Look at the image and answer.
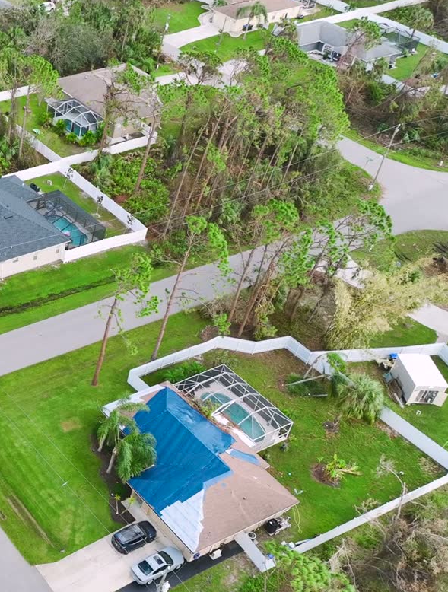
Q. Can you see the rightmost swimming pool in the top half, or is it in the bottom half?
bottom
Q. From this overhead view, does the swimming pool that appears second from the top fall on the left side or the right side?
left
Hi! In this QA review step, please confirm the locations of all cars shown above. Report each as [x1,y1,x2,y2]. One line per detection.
[124,549,188,585]
[102,519,160,558]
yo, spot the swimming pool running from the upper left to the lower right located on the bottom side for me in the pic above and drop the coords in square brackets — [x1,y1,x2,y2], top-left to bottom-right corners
[184,380,283,454]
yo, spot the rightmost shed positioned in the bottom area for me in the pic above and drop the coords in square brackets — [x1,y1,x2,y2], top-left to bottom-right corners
[385,352,448,408]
